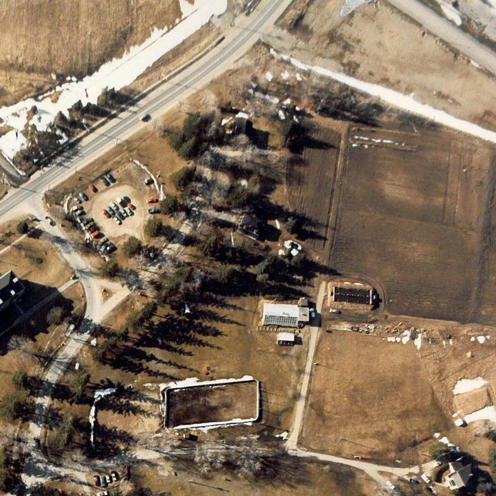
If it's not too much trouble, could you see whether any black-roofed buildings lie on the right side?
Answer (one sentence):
Yes, a black-roofed building can be seen on the right side.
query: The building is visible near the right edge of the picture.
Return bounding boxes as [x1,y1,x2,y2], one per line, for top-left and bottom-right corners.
[434,455,474,493]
